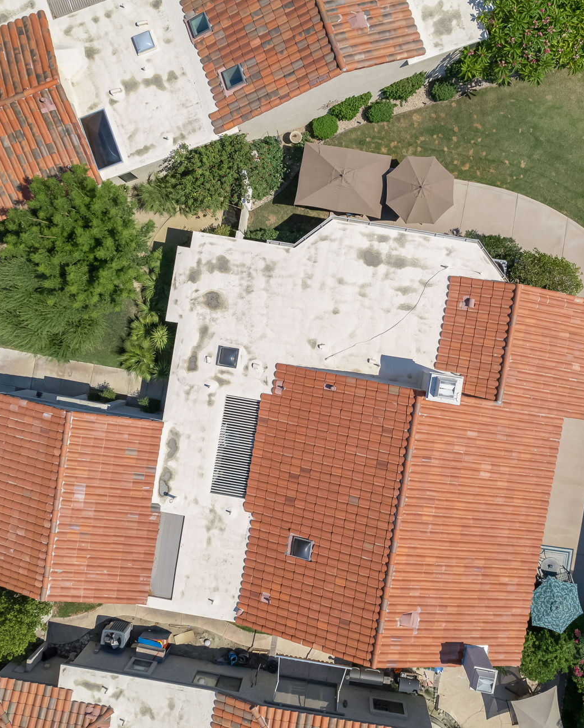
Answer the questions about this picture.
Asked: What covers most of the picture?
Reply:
buildings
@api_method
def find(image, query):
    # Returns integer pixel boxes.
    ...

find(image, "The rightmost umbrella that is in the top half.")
[386,156,453,223]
